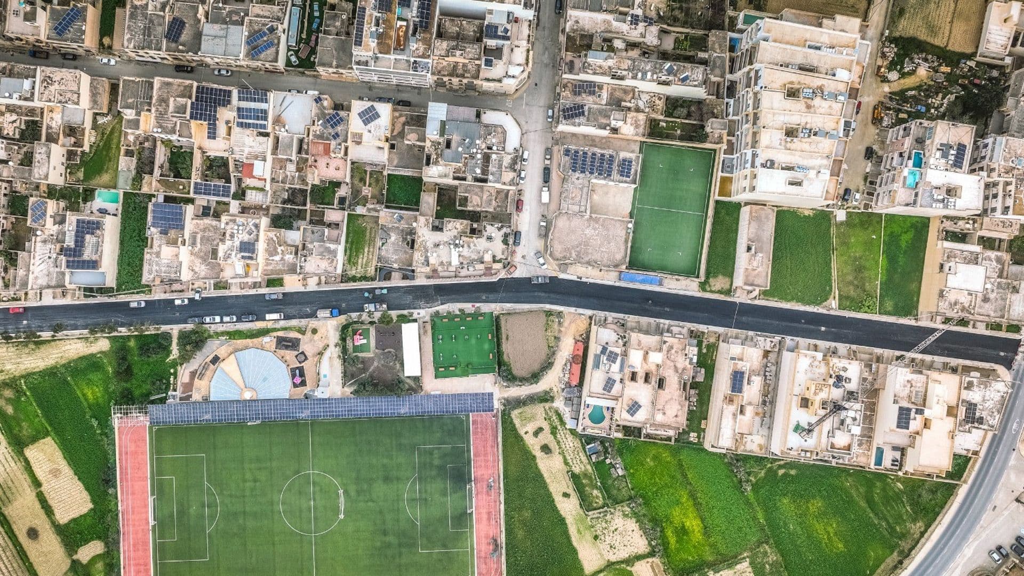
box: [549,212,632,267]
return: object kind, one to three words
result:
building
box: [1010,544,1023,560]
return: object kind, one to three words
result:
vehicle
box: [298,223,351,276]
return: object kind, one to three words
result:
house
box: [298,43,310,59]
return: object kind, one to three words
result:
vehicle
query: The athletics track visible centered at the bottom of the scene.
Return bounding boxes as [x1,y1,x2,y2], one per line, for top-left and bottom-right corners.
[470,413,504,576]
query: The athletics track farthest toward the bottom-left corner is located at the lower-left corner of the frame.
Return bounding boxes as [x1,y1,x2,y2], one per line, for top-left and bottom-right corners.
[114,420,152,576]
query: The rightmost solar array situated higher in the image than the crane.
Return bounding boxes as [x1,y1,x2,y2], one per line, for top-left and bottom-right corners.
[956,142,969,169]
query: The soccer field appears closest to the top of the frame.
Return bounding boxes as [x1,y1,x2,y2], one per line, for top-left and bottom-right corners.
[628,144,716,278]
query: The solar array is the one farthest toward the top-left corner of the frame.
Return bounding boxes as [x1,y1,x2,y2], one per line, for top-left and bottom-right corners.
[51,6,80,37]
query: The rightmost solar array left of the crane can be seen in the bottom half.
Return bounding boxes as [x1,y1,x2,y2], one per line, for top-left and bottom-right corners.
[732,371,745,394]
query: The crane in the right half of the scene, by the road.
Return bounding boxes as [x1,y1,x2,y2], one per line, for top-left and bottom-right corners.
[799,318,964,437]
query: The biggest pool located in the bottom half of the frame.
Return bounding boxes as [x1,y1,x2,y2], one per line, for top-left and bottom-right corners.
[588,405,607,426]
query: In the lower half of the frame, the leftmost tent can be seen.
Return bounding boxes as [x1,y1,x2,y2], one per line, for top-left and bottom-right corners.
[401,322,422,377]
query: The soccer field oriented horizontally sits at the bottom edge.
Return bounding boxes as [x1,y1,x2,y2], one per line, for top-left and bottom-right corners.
[150,414,475,576]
